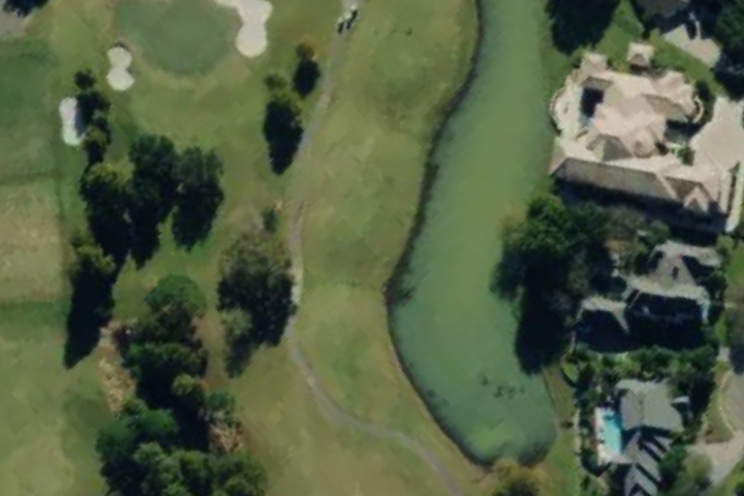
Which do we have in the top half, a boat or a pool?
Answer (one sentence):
Visible in the top half is a pool.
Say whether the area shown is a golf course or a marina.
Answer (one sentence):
The area seen from above is a golf course.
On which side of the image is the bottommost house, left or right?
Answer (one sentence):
The bottommost house is on the right side of the image.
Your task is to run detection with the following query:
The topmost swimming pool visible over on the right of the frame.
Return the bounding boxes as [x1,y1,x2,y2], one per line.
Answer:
[580,89,604,127]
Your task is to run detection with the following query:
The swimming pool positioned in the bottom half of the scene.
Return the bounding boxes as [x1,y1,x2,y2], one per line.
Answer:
[601,411,623,453]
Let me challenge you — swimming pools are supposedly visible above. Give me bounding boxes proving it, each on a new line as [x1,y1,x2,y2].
[601,411,623,453]
[580,89,604,127]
